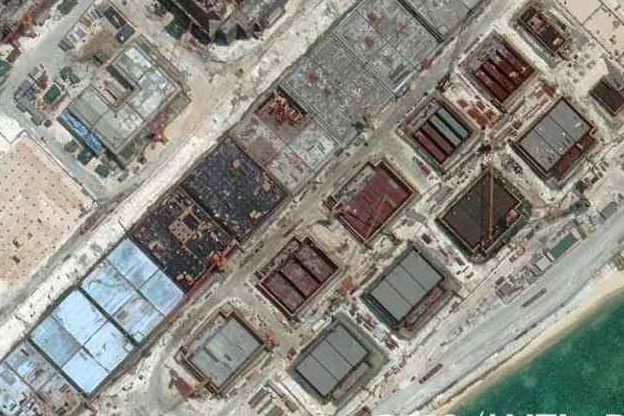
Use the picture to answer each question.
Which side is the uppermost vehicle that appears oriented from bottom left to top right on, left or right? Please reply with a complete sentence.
The uppermost vehicle that appears oriented from bottom left to top right is on the right side of the image.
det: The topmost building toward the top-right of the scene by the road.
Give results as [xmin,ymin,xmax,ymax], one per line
[518,6,566,55]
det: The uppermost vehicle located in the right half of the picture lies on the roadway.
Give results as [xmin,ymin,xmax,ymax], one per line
[523,287,547,307]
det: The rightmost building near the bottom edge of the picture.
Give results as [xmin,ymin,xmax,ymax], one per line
[291,322,378,404]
